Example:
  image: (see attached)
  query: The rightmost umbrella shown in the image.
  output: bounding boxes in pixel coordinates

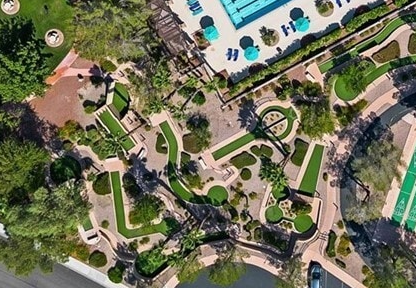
[294,16,311,32]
